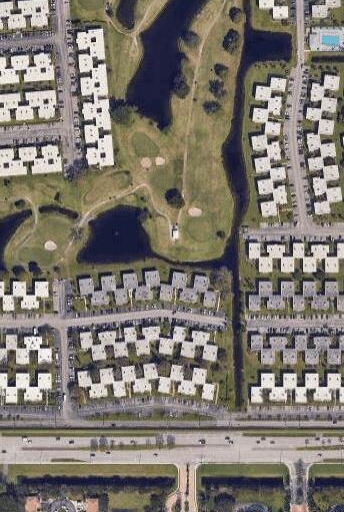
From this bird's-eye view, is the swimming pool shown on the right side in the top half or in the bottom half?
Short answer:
top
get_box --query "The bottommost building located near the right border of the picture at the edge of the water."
[251,372,344,403]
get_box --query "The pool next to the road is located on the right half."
[311,27,344,51]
